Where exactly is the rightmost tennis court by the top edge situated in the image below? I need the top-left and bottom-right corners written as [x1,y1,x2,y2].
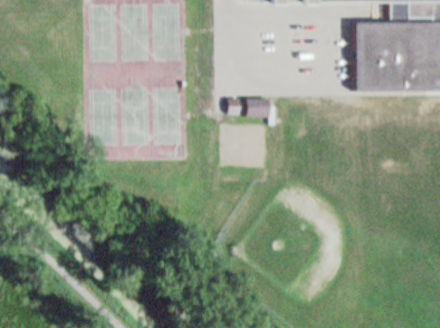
[151,4,181,62]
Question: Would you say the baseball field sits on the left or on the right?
right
